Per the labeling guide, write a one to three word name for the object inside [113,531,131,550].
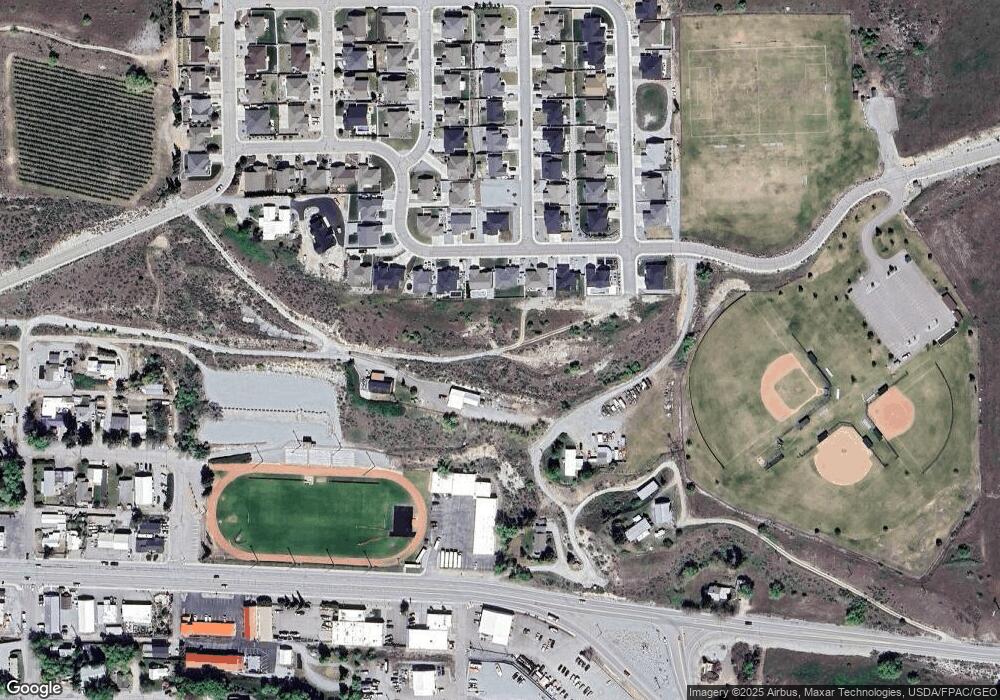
building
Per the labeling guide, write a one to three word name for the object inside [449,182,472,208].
house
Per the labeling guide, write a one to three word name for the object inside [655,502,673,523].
barn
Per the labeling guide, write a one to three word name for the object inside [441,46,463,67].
house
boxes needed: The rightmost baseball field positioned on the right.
[868,388,915,439]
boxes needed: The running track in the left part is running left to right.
[207,464,428,566]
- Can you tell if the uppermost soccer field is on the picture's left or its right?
right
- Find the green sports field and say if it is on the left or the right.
left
